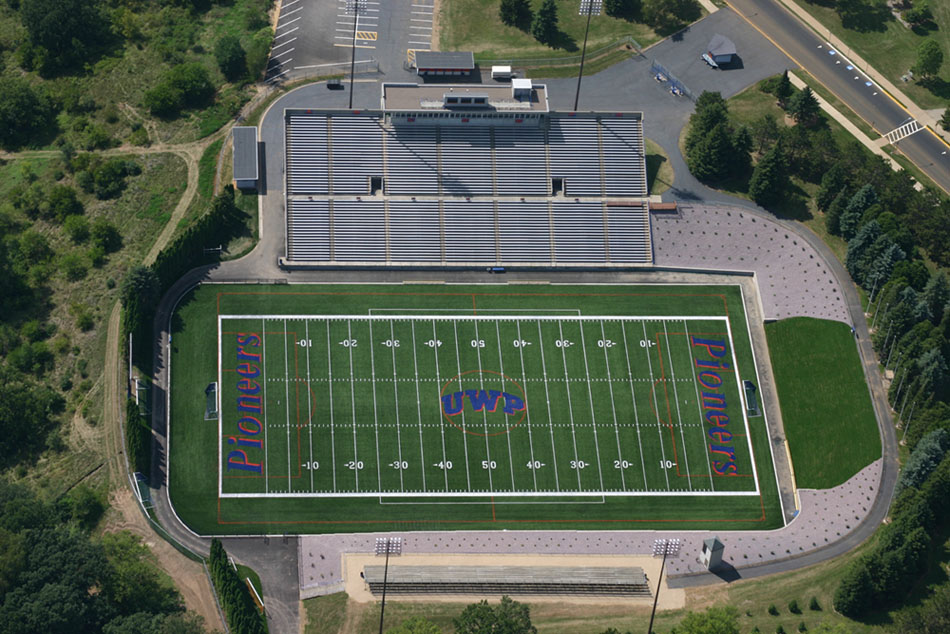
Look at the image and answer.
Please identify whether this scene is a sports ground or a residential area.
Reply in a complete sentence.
What you see here is a sports ground.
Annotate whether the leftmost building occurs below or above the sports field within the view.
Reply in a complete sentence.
The leftmost building is found above the sports field in the photo.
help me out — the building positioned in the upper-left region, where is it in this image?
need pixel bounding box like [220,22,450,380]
[233,125,259,188]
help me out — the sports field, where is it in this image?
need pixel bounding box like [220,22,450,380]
[166,282,788,537]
